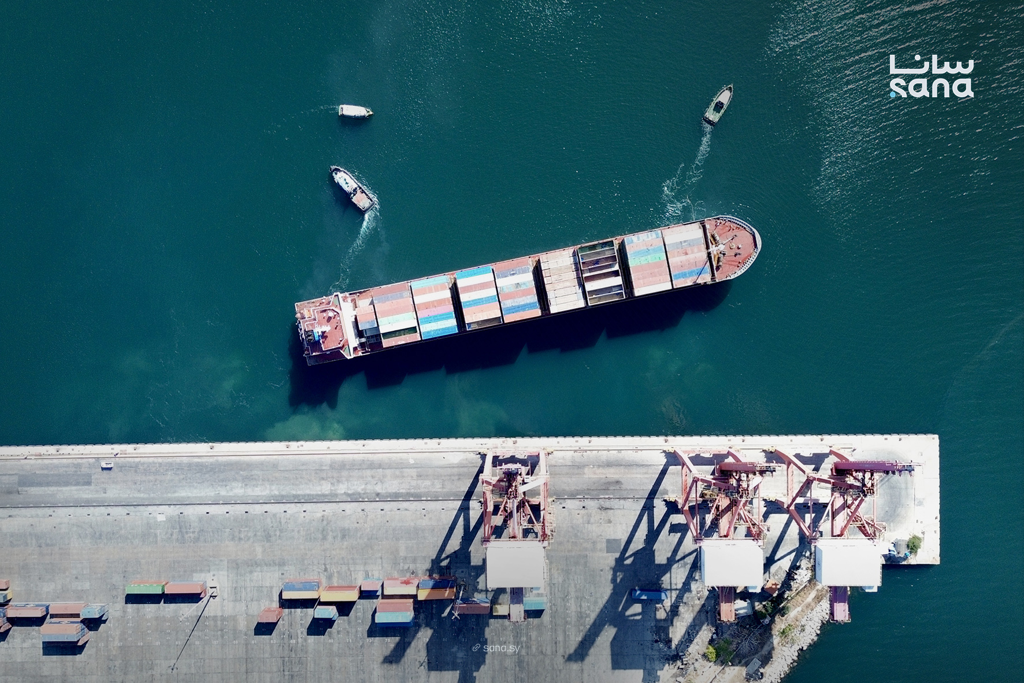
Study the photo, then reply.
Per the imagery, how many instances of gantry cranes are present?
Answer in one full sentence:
I count 3 gantry cranes.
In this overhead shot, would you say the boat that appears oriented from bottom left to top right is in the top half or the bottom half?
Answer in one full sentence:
The boat that appears oriented from bottom left to top right sits in the top half of the picture.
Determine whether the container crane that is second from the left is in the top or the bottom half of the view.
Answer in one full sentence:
You can find the container crane that is second from the left in the bottom half.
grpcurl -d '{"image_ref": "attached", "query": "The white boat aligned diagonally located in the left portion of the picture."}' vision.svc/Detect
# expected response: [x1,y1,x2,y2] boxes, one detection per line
[329,166,376,215]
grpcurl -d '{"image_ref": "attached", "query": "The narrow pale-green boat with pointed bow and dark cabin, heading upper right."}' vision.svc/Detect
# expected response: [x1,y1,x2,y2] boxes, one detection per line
[704,84,733,128]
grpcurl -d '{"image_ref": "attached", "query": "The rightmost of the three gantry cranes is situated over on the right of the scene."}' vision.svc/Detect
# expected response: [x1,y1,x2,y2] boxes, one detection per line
[763,448,931,622]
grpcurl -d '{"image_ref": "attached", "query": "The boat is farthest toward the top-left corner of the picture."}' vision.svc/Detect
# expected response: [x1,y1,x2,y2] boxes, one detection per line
[339,104,373,119]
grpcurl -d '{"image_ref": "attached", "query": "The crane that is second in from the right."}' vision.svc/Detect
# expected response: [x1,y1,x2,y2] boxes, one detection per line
[662,448,790,622]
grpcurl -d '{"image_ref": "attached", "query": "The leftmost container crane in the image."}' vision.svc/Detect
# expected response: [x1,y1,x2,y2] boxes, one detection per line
[476,448,557,622]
